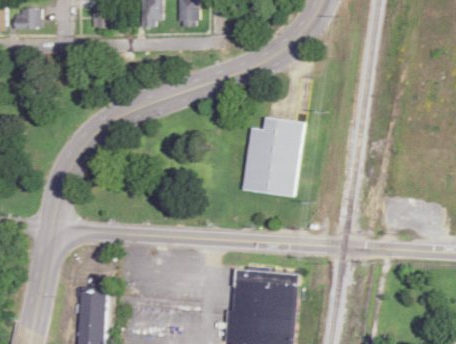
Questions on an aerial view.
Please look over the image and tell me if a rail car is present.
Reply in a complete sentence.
No, there appears to be no rail car in this shot.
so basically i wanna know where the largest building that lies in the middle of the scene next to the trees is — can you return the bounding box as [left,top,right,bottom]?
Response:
[244,117,308,198]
